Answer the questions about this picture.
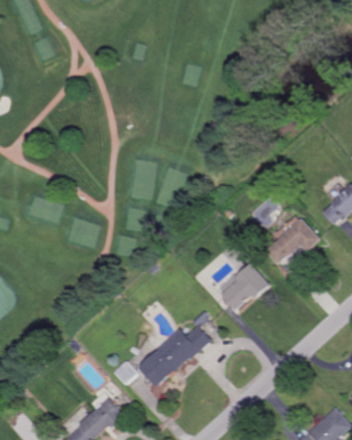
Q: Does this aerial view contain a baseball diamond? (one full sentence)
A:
No, the scene contains no baseball diamond.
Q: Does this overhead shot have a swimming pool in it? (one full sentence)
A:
Yes, a swimming pool can be made out from above.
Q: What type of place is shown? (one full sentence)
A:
This looks like a golf course.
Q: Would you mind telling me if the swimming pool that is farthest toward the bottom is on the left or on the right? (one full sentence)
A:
The swimming pool that is farthest toward the bottom sits on the left side.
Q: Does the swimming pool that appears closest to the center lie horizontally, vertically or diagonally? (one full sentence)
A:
The swimming pool that appears closest to the center is laid out diagonally.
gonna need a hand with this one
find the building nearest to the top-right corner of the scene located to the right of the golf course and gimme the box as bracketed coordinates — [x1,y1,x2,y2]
[323,184,352,226]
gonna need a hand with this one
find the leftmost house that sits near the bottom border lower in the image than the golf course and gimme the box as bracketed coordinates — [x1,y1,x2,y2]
[66,396,118,440]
